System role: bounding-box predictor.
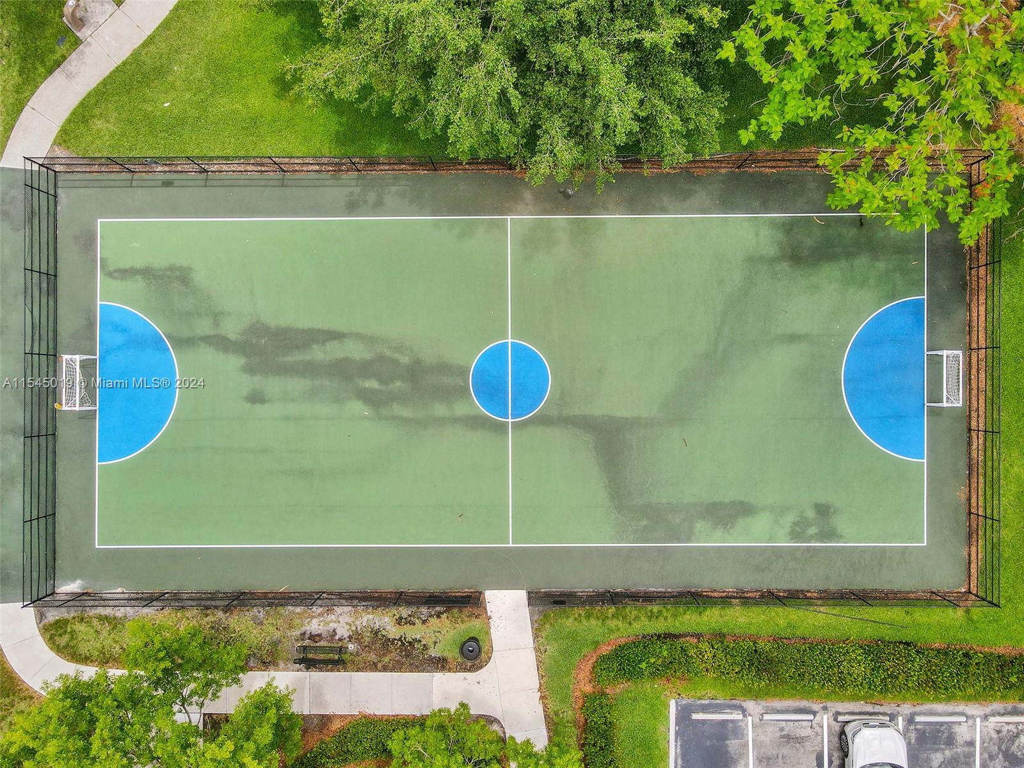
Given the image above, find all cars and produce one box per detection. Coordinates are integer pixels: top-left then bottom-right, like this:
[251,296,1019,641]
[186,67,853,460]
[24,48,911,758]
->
[842,716,905,768]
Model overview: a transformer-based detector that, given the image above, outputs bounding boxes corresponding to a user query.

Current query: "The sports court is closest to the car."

[55,168,967,592]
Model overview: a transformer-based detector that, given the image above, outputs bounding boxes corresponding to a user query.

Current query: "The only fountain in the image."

[58,0,86,31]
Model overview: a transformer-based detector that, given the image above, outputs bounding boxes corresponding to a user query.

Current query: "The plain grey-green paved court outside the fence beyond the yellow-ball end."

[0,166,55,604]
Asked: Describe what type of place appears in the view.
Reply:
sports ground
